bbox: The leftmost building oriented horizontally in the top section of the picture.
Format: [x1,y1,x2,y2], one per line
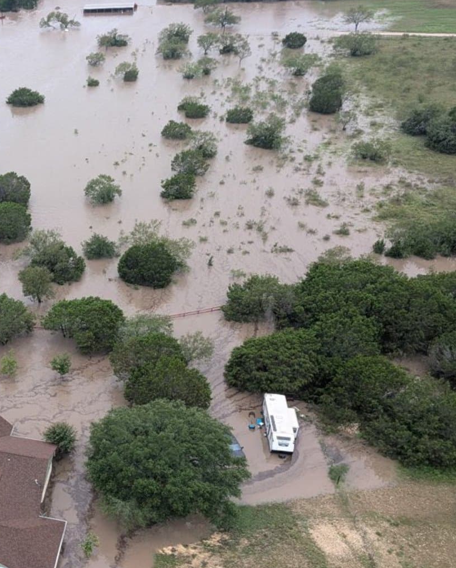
[79,0,135,13]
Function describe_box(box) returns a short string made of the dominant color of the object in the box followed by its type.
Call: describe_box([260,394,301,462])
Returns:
white camper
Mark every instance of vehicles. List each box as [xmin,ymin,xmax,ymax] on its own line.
[232,431,248,464]
[260,394,301,462]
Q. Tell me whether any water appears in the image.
Yes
